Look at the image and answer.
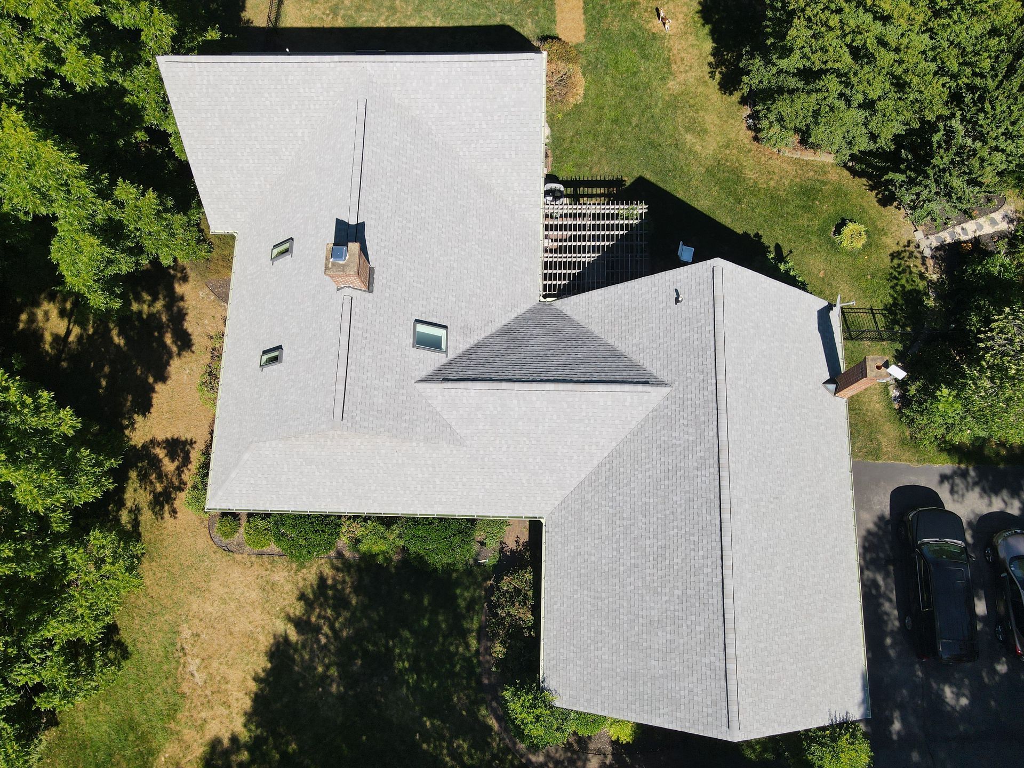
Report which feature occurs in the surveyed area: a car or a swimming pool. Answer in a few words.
car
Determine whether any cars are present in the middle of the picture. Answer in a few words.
No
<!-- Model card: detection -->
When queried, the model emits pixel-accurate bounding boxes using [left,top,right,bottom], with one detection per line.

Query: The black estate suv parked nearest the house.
[895,498,987,664]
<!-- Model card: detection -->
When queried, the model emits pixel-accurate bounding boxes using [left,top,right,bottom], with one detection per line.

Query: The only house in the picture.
[156,45,891,743]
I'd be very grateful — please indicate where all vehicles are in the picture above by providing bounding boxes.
[895,498,987,664]
[983,520,1024,673]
